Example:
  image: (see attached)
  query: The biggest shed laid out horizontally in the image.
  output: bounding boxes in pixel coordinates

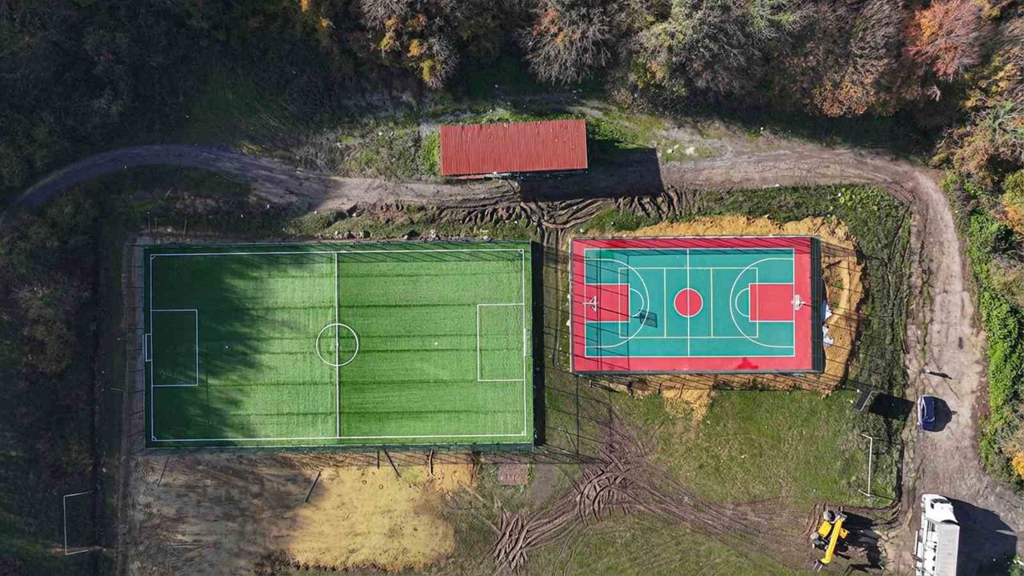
[439,120,589,184]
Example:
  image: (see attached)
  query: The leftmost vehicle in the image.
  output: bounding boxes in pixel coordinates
[811,510,848,576]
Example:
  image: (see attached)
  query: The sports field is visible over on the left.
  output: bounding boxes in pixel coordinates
[143,240,533,449]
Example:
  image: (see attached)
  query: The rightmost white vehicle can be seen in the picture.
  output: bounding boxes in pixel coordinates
[916,494,957,576]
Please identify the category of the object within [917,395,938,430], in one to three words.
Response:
car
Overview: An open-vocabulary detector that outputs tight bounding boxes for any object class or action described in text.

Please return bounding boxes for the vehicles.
[917,395,938,430]
[811,510,848,576]
[916,494,957,576]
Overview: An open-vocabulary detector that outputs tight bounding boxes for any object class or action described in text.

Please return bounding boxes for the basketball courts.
[569,237,813,373]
